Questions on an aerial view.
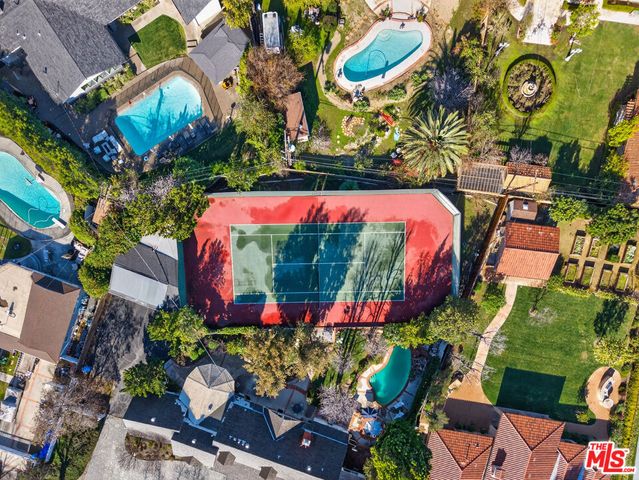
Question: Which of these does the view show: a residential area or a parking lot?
residential area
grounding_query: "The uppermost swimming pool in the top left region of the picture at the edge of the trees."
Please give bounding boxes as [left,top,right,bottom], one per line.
[107,67,211,164]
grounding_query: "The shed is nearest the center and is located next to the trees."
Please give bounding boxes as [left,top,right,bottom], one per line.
[286,92,309,149]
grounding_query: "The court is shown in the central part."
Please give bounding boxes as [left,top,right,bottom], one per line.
[185,193,452,326]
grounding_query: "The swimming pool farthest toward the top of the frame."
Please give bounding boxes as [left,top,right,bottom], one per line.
[338,24,429,86]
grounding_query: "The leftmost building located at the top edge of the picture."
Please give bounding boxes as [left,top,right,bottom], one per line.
[0,0,149,102]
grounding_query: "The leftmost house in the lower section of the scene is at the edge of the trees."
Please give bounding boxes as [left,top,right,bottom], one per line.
[0,262,88,366]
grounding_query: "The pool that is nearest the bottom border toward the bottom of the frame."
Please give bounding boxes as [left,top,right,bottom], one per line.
[364,337,417,411]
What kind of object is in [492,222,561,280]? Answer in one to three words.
house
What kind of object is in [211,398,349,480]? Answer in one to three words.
house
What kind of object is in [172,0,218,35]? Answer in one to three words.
shed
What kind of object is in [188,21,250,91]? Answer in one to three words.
building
